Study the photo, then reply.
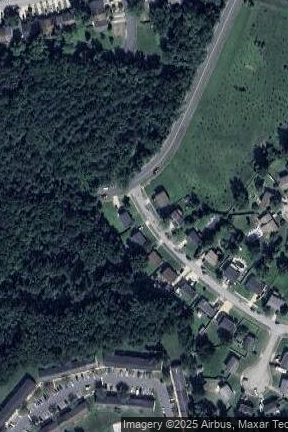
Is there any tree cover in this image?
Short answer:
Yes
